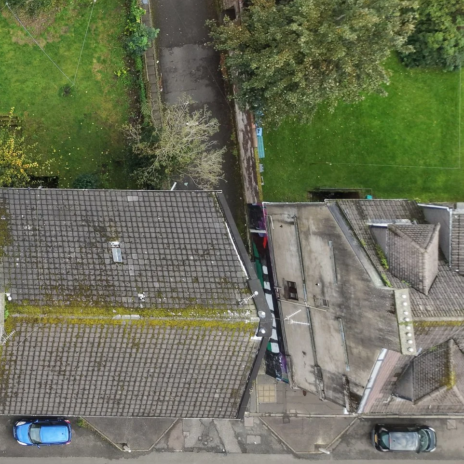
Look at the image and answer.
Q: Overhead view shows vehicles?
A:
Yes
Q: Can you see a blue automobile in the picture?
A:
Yes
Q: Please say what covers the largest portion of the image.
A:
buildings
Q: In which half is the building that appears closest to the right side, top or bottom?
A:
bottom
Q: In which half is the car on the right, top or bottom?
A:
bottom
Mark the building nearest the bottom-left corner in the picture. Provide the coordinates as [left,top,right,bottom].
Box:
[0,187,272,422]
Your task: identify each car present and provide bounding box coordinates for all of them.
[13,418,71,450]
[369,422,432,457]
